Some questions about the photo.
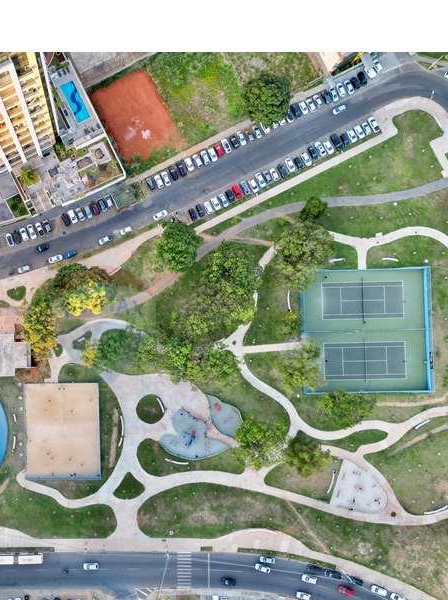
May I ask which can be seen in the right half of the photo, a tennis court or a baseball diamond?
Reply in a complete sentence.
You can see a tennis court in the right half of the photo.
